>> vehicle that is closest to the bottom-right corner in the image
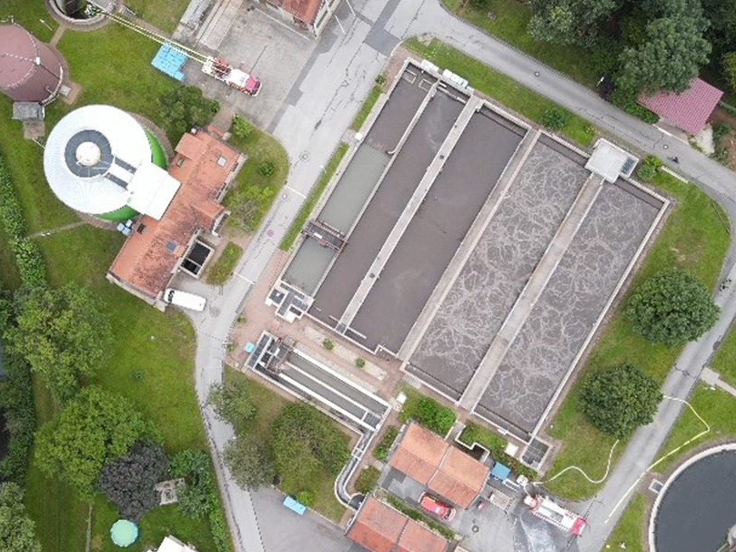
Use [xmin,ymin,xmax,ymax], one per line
[519,491,594,543]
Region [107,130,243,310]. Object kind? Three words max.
house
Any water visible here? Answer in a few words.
Yes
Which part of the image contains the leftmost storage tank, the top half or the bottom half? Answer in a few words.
top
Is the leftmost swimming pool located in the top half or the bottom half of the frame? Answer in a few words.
bottom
